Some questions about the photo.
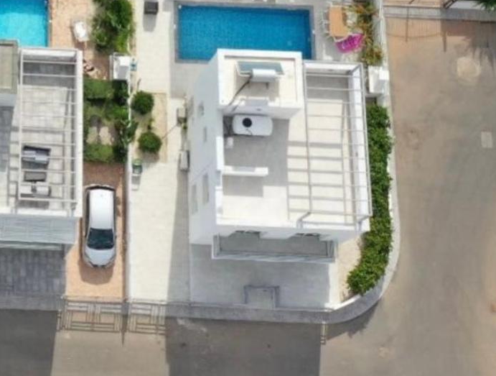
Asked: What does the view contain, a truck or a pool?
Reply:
pool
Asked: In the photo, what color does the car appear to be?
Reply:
white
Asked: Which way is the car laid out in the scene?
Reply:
vertically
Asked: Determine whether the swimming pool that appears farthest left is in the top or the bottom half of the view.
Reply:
top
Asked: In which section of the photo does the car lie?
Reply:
left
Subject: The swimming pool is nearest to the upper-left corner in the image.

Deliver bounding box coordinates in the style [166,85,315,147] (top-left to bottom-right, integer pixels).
[0,0,53,49]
